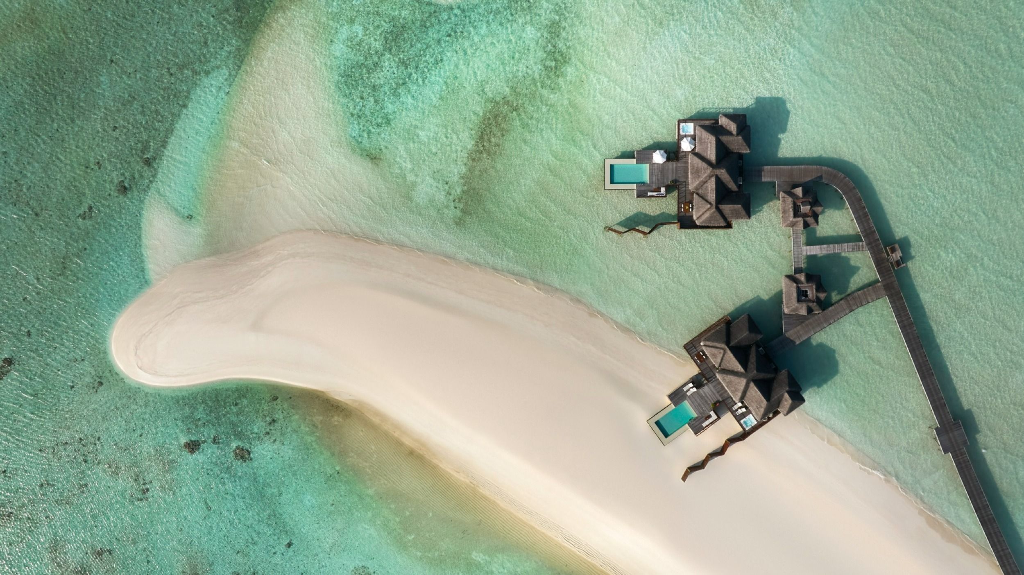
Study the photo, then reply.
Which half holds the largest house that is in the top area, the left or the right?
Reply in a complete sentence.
The largest house that is in the top area is on the right side of the image.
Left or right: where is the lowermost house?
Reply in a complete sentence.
The lowermost house sits on the right side.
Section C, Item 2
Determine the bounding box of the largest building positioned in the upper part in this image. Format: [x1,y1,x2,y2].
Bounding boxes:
[674,114,751,229]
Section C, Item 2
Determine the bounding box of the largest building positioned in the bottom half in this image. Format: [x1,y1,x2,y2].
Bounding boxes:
[681,314,806,438]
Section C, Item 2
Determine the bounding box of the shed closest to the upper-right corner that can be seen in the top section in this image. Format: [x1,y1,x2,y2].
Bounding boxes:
[778,186,825,231]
